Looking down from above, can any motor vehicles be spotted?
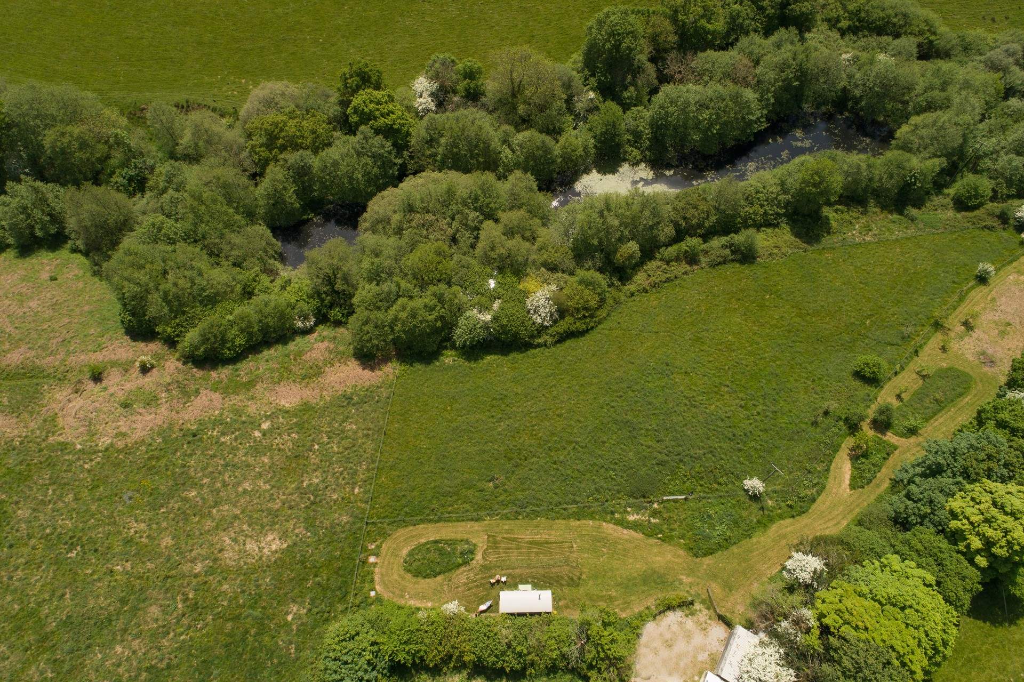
No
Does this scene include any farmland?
Yes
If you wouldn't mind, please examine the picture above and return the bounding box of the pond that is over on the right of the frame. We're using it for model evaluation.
[539,104,896,221]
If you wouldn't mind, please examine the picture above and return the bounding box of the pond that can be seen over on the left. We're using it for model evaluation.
[263,194,376,275]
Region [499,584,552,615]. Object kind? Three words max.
shed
